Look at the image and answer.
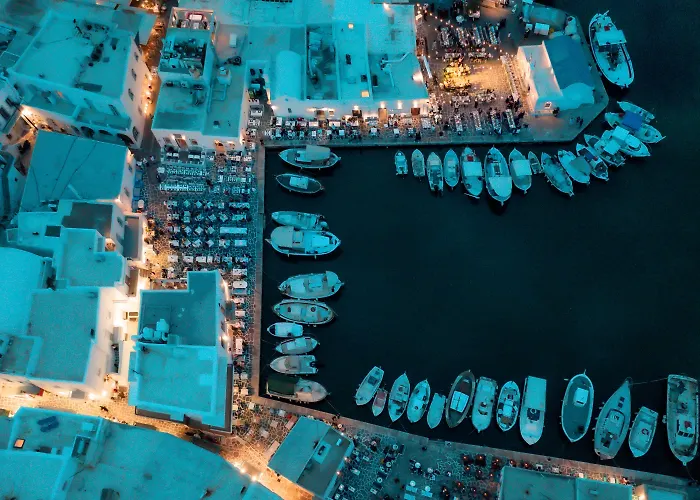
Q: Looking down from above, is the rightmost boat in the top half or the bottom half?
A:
bottom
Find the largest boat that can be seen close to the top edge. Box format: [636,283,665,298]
[591,10,637,92]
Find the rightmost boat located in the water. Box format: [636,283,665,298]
[663,373,700,484]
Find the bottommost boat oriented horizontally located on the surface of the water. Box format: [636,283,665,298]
[265,377,340,415]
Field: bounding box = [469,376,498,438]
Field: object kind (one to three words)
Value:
boat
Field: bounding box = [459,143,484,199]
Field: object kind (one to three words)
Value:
boat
